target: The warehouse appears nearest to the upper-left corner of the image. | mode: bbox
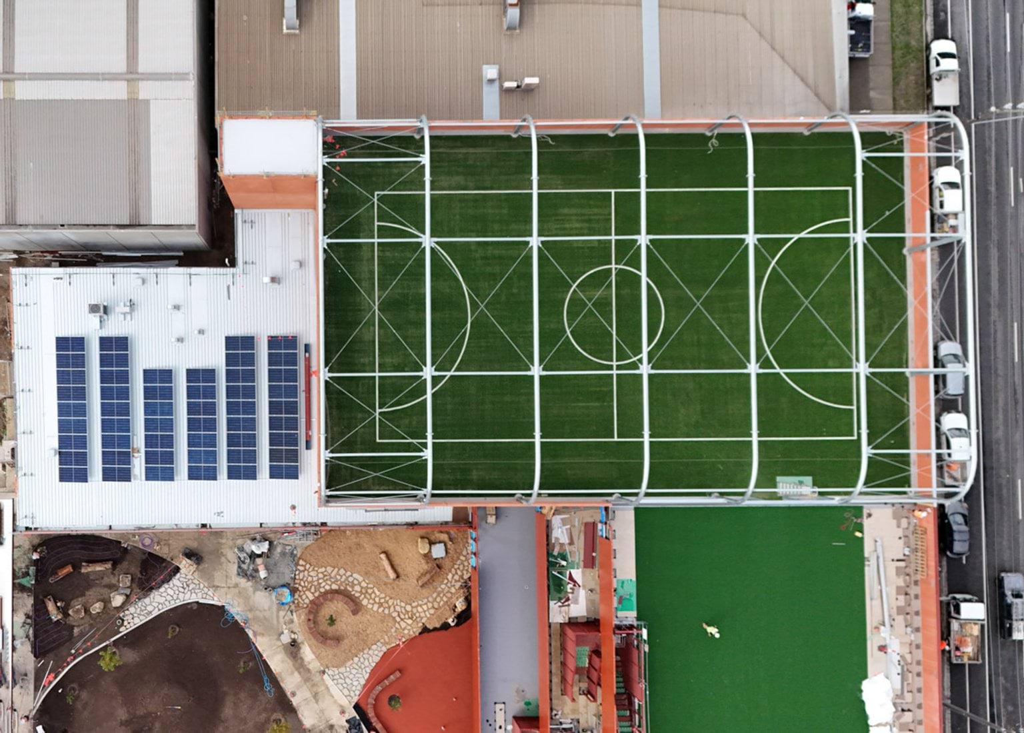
[0,0,211,253]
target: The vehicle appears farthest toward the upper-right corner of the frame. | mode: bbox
[927,40,965,109]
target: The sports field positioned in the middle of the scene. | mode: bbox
[325,132,911,496]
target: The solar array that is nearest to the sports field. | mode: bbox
[268,336,300,478]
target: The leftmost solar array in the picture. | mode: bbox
[57,337,89,481]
